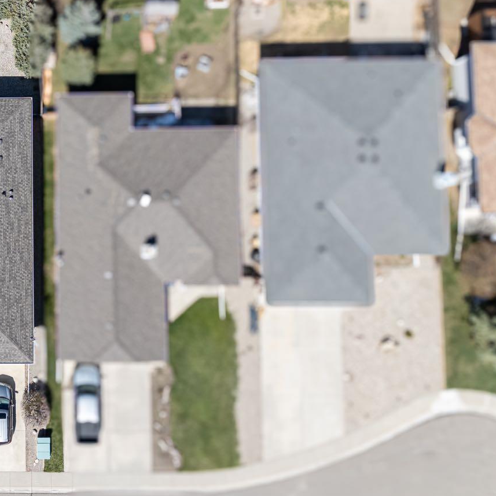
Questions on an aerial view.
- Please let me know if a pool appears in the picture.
No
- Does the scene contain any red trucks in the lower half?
No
